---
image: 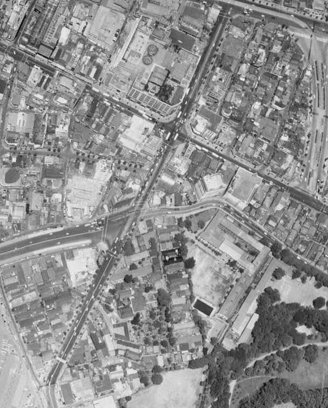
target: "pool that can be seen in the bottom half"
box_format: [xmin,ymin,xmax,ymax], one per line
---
[192,299,215,317]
